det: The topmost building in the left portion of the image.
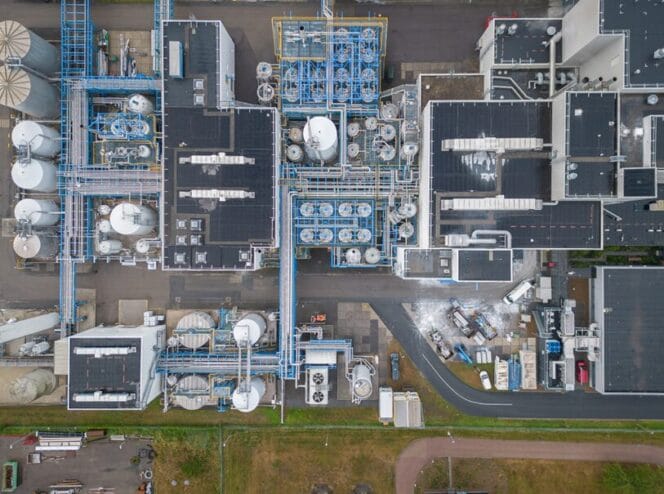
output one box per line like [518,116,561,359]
[163,21,282,270]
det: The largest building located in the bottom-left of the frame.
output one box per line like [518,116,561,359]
[69,327,167,410]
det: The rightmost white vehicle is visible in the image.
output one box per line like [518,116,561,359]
[501,277,538,307]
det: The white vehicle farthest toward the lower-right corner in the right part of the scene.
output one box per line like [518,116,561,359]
[477,368,493,391]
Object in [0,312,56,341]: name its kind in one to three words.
silo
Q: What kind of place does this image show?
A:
industrial area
